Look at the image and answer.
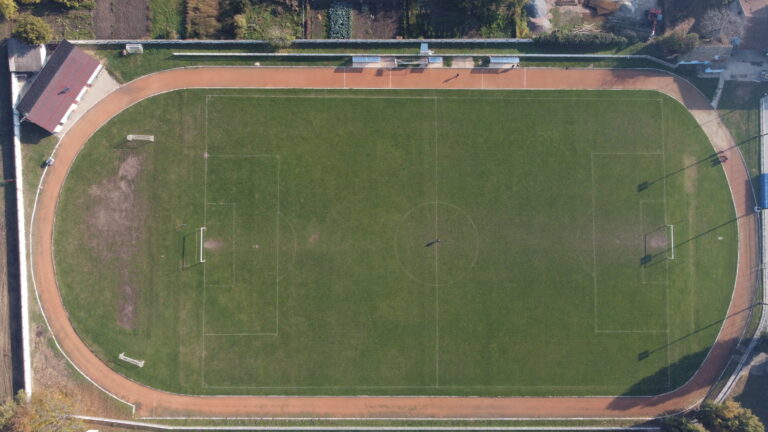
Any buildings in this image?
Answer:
Yes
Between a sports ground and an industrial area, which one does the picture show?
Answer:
sports ground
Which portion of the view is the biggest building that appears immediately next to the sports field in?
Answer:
top left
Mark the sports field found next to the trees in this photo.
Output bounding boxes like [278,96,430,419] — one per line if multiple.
[52,88,738,397]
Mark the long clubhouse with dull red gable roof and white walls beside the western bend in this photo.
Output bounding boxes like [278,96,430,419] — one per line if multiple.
[17,40,105,132]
